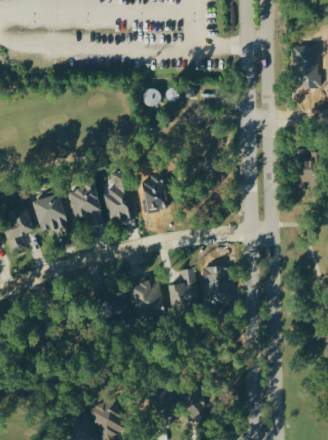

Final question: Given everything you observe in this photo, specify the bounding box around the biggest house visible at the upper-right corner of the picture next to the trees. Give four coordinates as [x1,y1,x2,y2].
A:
[292,42,322,92]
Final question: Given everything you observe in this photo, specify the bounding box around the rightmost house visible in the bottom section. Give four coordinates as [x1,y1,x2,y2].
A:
[202,268,230,307]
